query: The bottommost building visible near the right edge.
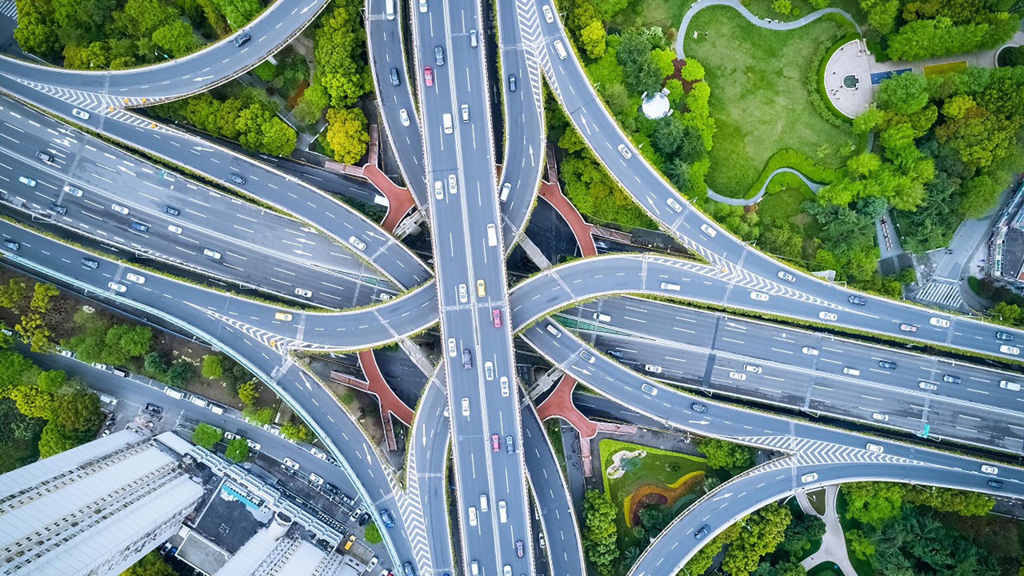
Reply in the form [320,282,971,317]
[987,226,1024,283]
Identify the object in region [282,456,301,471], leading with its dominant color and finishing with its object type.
white car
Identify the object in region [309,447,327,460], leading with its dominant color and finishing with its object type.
white vehicle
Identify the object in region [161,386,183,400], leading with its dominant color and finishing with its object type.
white vehicle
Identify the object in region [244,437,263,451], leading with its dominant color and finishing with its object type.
white car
